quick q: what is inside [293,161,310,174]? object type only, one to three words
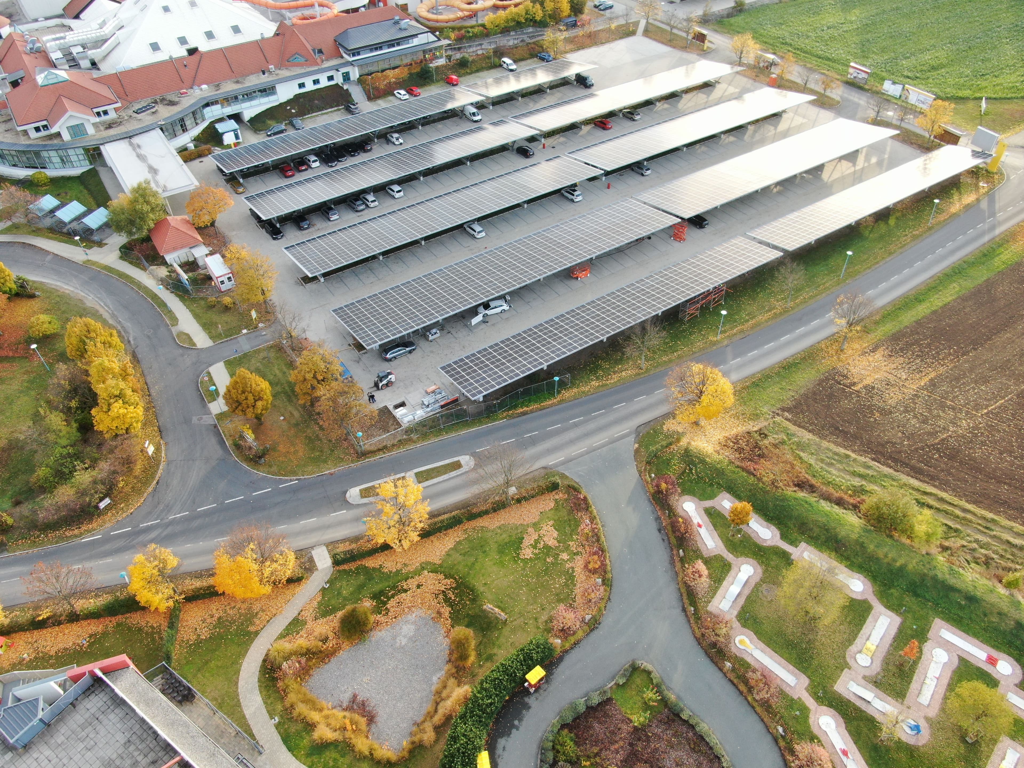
vehicle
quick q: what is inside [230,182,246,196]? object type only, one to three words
car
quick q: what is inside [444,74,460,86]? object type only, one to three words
vehicle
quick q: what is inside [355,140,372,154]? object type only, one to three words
car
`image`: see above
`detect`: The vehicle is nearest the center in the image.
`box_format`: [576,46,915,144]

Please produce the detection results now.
[475,294,510,320]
